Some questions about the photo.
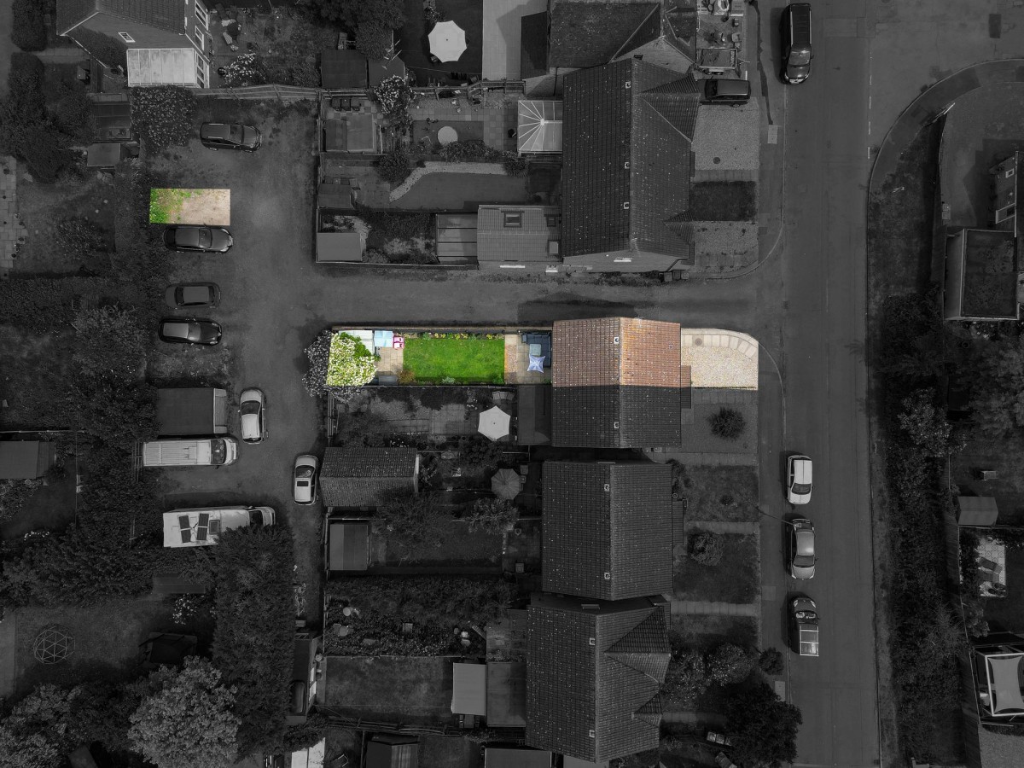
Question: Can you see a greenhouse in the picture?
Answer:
Yes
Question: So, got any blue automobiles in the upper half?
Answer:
No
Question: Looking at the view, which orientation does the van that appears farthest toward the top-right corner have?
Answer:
vertically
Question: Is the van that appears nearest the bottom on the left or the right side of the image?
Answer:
right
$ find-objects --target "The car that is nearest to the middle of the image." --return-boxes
[291,454,319,504]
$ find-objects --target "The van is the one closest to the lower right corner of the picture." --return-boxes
[787,594,819,657]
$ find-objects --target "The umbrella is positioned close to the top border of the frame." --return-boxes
[429,25,467,63]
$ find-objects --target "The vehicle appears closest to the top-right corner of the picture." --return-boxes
[779,4,815,84]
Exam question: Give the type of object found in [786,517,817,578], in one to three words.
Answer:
car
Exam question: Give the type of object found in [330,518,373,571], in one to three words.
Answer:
shed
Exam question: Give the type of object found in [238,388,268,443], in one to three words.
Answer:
car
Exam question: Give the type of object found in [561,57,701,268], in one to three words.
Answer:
house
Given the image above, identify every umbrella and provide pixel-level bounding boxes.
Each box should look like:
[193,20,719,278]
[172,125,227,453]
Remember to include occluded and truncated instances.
[491,468,521,499]
[429,25,467,63]
[527,354,545,372]
[478,404,511,440]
